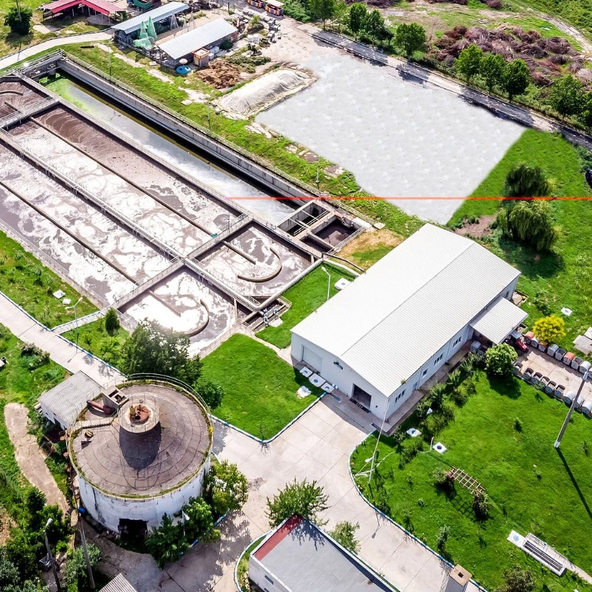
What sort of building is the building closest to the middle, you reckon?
warehouse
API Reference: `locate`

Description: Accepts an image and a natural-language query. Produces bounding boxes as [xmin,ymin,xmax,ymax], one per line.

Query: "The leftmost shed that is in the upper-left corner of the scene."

[41,0,124,27]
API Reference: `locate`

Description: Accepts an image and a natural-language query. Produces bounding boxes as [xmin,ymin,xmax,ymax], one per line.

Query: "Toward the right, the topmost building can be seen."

[290,218,529,422]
